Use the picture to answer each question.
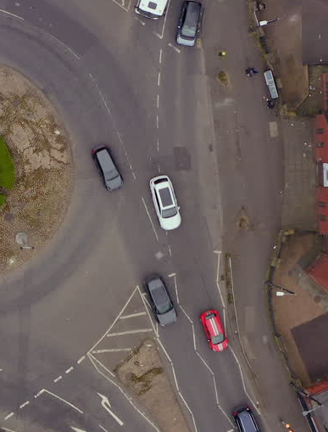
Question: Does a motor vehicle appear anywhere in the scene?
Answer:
Yes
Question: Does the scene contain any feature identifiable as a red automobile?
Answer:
Yes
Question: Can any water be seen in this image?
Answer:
No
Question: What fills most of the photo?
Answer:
paved ground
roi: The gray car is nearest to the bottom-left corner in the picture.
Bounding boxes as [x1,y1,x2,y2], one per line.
[144,275,176,326]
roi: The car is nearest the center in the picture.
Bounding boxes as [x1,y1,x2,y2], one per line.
[149,175,180,229]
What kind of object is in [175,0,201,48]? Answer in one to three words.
car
